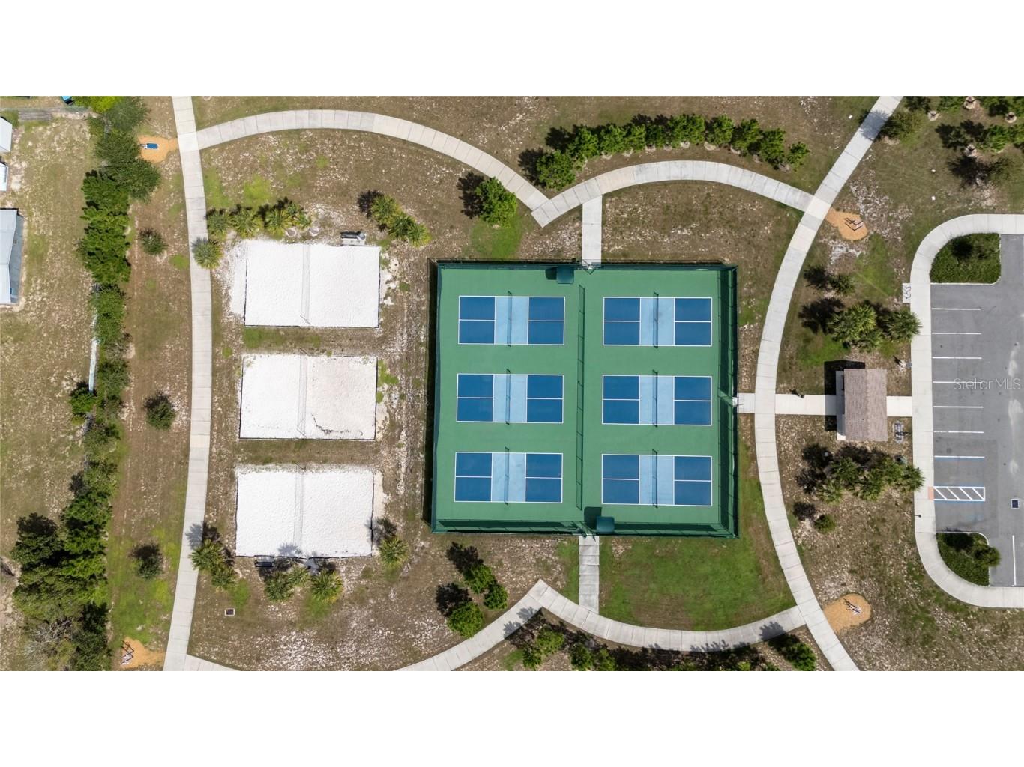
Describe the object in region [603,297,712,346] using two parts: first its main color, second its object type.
blue sports court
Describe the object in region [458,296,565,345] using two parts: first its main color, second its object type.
blue sports court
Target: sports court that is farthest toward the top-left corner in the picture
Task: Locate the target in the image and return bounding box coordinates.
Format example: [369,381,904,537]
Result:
[244,242,380,328]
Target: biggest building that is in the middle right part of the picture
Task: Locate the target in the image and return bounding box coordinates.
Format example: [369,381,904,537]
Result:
[836,369,888,441]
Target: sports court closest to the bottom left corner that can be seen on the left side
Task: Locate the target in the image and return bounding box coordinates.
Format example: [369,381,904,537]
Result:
[234,467,374,557]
